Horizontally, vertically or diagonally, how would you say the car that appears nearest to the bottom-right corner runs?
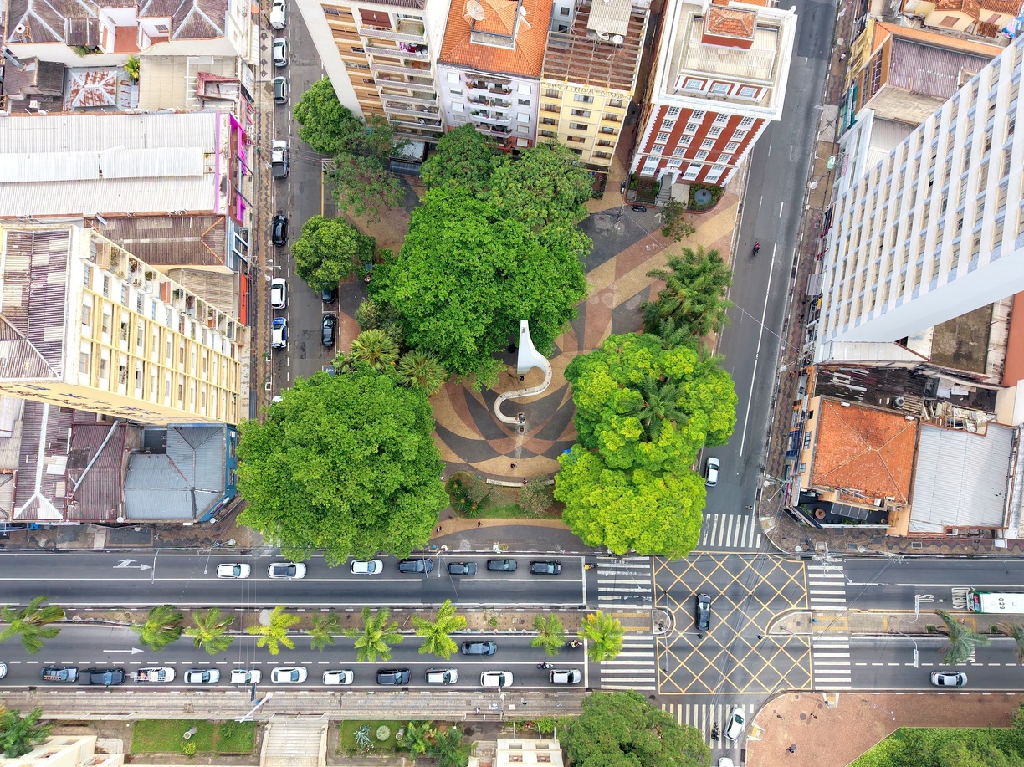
horizontally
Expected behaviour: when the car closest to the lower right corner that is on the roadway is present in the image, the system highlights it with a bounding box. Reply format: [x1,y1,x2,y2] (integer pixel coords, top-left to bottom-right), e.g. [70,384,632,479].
[928,670,968,690]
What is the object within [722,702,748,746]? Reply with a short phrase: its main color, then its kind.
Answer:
white car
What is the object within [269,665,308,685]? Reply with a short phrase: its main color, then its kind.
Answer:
white car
